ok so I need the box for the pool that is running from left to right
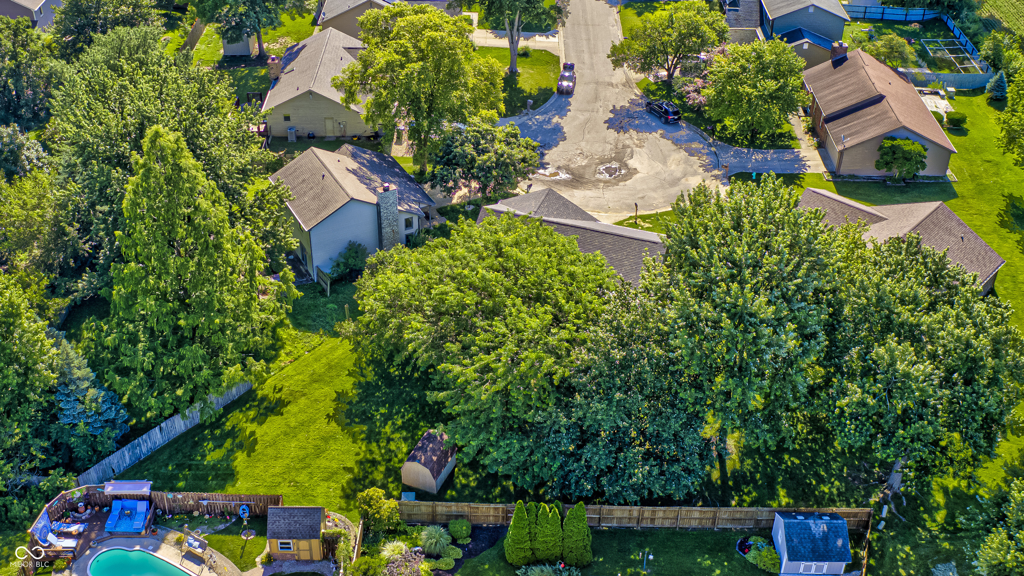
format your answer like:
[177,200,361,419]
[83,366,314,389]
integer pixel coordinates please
[82,544,201,576]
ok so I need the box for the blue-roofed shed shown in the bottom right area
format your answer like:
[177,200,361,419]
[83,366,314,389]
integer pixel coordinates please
[772,513,848,574]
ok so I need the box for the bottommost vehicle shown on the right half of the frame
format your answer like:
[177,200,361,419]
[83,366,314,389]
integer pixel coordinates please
[641,98,684,122]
